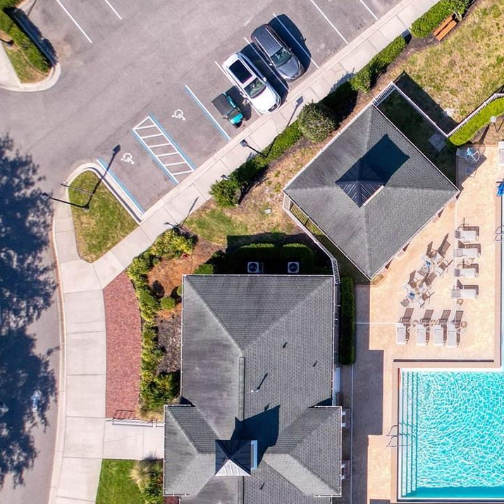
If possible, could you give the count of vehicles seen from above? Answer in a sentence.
Looking from above, you can make out 3 vehicles.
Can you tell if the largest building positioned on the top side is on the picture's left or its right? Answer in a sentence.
The largest building positioned on the top side is on the right side of the image.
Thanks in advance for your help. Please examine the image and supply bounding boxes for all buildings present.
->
[162,273,358,504]
[283,101,462,278]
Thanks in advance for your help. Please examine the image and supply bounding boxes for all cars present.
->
[246,19,305,81]
[218,47,280,113]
